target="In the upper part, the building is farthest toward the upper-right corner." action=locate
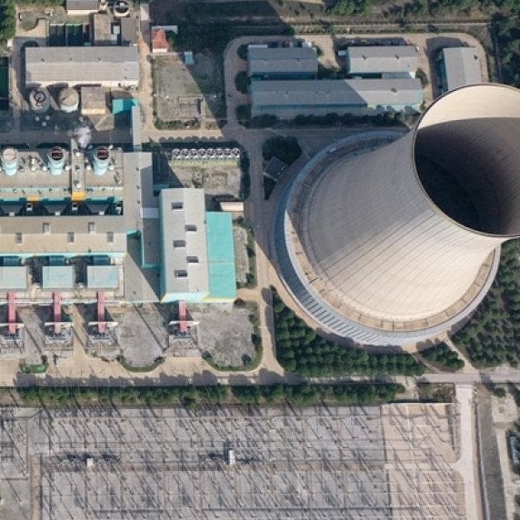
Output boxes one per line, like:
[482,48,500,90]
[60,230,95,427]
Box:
[437,46,481,93]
